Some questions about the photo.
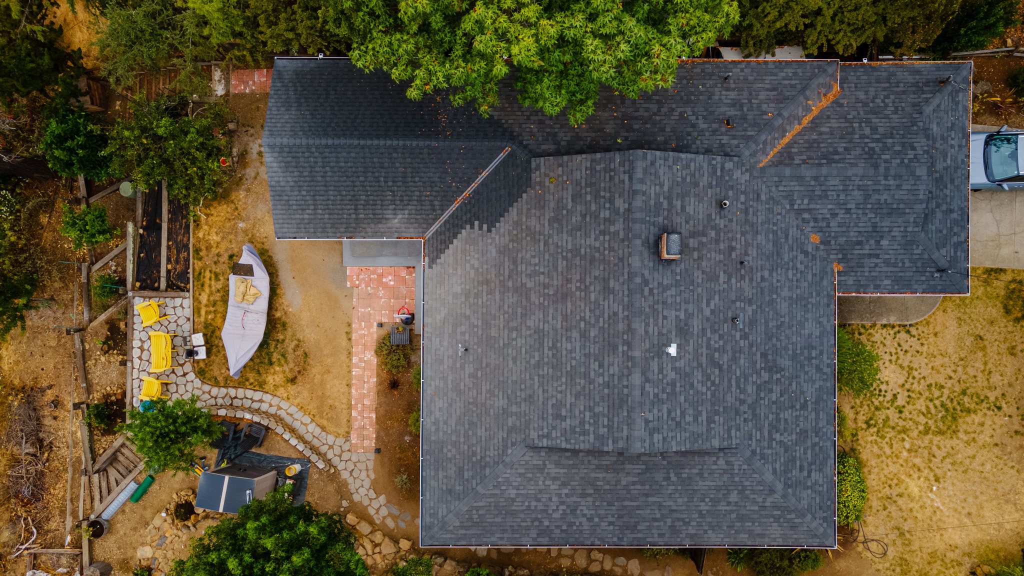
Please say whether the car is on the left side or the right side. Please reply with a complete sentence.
It is on the right.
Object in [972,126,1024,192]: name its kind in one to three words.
car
